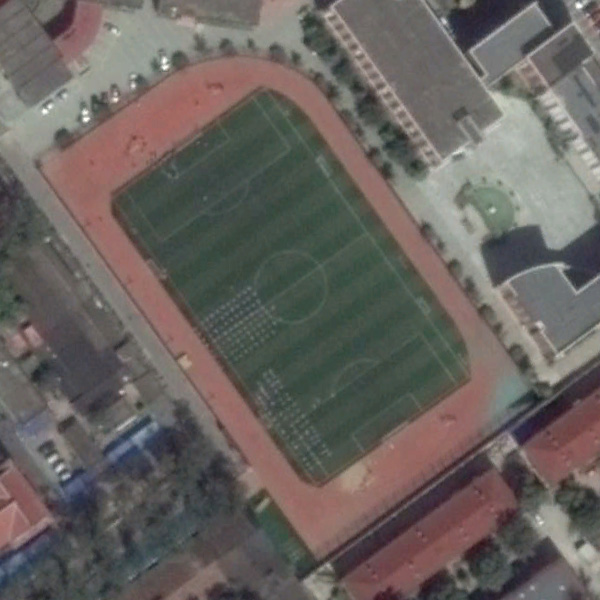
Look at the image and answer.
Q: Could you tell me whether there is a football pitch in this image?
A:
Yes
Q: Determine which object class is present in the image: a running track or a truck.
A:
running track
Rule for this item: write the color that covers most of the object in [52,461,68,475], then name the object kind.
white vehicle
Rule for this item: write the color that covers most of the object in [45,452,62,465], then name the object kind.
white vehicle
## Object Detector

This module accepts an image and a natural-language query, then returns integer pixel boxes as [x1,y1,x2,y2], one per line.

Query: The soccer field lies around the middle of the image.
[117,91,466,481]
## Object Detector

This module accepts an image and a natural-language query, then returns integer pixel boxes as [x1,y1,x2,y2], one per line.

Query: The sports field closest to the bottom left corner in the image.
[248,488,316,574]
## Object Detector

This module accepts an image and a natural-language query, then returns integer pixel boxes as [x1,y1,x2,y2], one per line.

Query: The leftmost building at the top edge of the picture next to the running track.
[0,0,73,112]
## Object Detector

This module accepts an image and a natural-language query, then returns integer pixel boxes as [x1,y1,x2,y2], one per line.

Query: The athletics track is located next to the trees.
[38,56,532,560]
